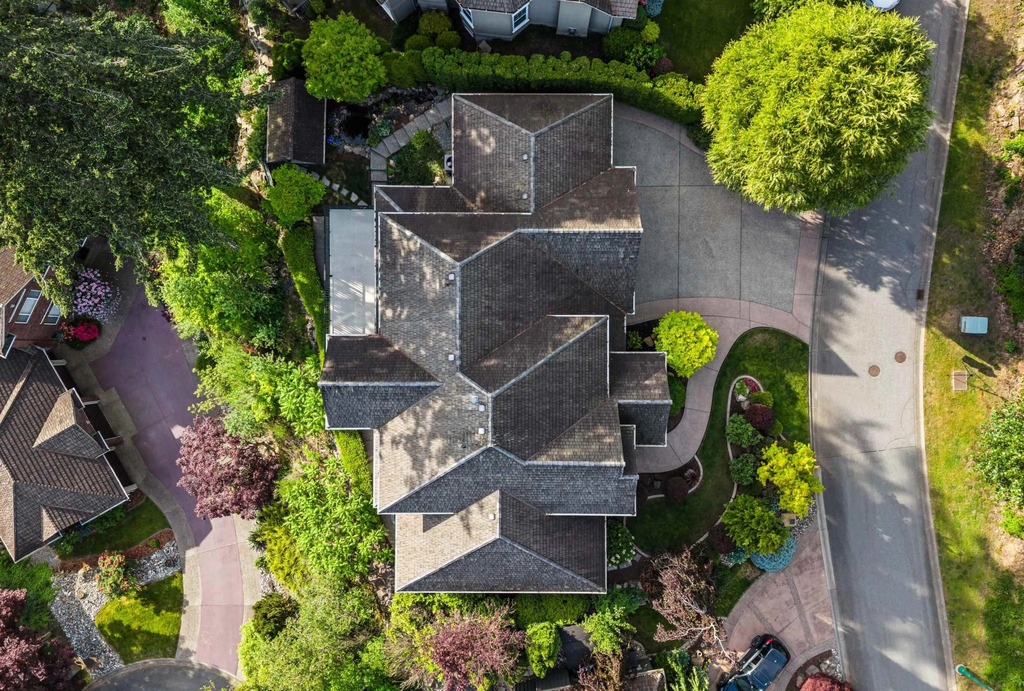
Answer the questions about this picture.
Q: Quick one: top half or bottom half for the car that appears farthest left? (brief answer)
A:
bottom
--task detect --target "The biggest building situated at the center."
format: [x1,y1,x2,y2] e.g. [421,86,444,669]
[319,92,673,595]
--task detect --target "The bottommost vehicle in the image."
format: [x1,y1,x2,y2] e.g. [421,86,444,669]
[722,633,795,691]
